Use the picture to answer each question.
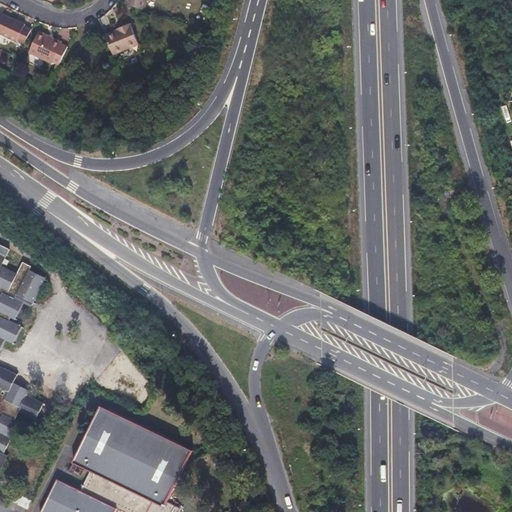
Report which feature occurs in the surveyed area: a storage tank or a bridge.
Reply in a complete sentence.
Of the two, only a bridge appears.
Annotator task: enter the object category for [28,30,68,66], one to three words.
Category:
house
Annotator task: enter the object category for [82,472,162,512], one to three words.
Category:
building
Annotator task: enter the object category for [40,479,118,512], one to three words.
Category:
building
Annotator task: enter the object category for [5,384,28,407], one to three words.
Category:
house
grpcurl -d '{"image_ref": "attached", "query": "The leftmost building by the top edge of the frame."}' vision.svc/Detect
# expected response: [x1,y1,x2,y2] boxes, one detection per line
[0,12,33,44]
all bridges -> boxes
[321,294,459,432]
